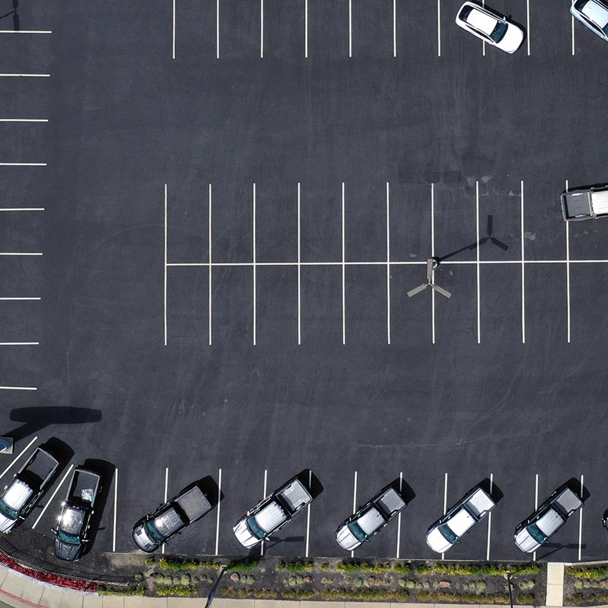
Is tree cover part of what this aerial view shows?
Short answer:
No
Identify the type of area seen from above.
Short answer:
parking lot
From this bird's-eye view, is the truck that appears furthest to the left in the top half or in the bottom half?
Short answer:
bottom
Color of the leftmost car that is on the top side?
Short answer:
white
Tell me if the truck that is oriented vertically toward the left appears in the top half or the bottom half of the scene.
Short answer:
bottom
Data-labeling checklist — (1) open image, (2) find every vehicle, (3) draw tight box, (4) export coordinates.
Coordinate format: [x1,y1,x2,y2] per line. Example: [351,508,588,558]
[425,484,499,553]
[49,464,104,560]
[455,1,524,54]
[337,483,409,550]
[512,483,587,552]
[562,187,608,222]
[235,475,315,546]
[569,0,608,45]
[0,444,63,532]
[136,482,215,551]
